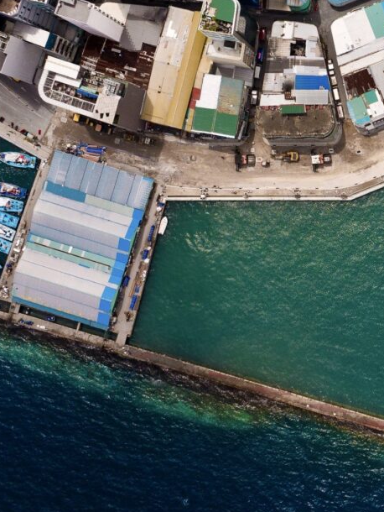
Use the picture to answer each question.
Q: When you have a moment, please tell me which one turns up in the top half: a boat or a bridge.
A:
boat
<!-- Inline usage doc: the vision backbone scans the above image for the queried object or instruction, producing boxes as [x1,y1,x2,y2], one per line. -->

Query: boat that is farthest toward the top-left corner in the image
[0,151,40,170]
